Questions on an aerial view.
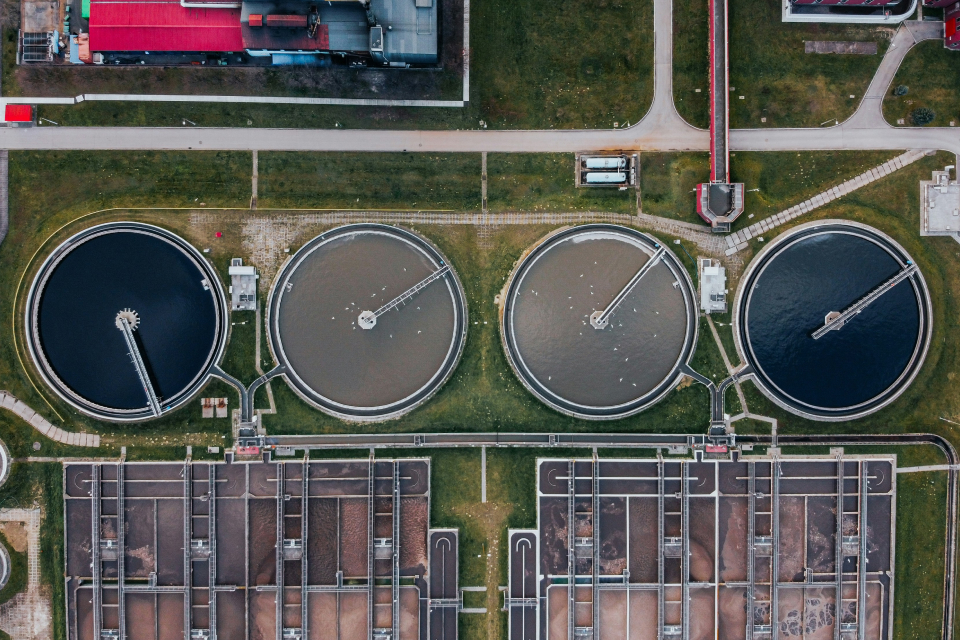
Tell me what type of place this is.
industrial area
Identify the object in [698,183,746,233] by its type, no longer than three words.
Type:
house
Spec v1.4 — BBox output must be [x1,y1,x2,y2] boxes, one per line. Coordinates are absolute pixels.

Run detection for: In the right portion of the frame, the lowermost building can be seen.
[698,260,728,314]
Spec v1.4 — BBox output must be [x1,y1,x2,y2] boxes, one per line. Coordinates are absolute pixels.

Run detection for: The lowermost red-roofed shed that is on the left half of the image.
[5,105,37,124]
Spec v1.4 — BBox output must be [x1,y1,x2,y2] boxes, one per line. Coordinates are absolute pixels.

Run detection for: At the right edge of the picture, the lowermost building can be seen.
[917,164,960,247]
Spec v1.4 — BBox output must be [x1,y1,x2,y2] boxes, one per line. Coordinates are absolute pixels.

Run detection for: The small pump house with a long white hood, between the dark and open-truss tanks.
[229,259,261,310]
